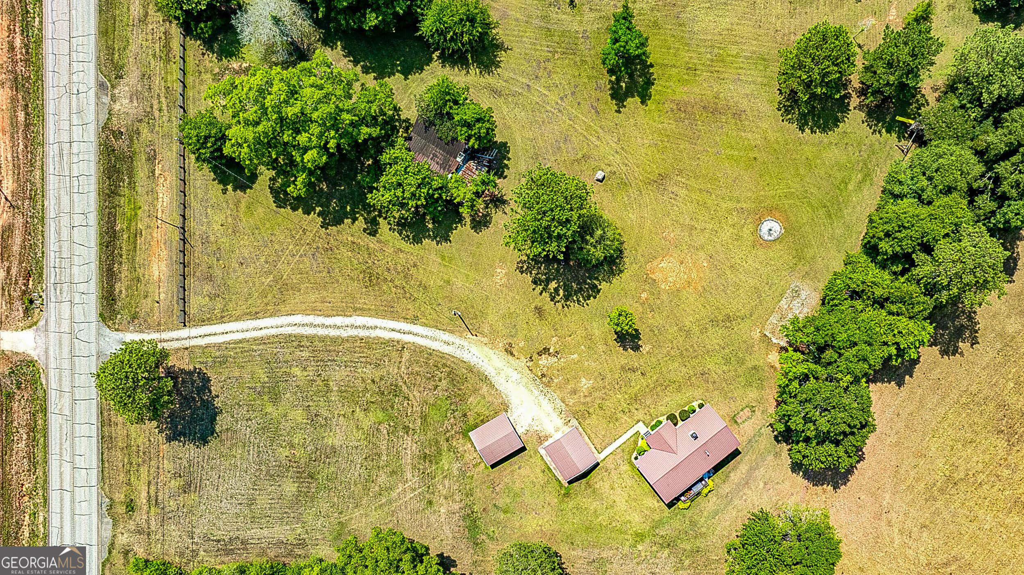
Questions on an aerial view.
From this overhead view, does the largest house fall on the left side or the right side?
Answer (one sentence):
The largest house appears in the right half of the scene.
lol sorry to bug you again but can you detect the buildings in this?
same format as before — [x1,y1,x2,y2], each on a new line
[543,425,598,482]
[468,411,524,467]
[634,403,740,505]
[400,116,466,178]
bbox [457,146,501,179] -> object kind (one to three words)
shed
